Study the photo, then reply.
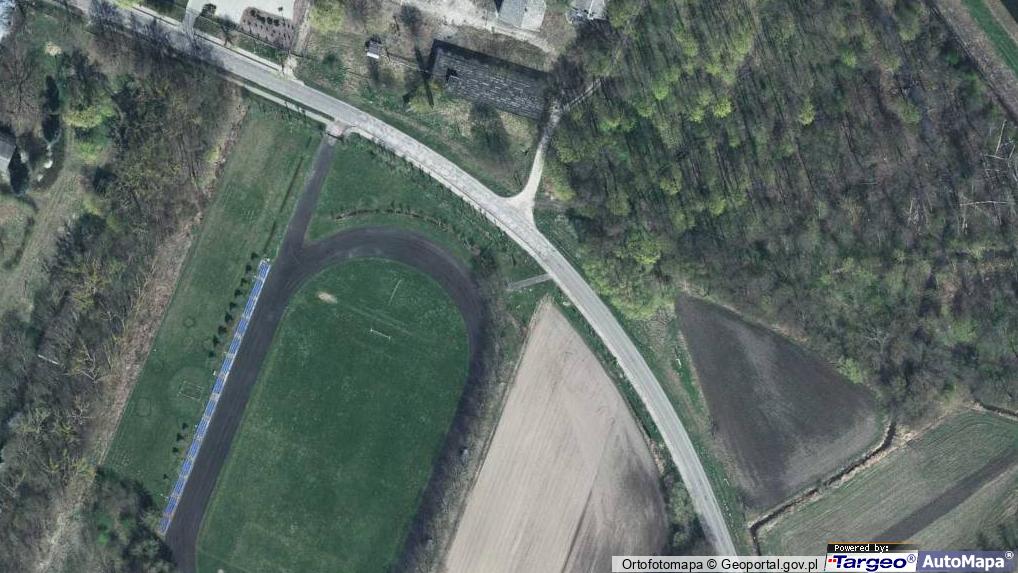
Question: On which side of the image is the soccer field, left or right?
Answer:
left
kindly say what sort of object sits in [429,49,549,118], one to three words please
barn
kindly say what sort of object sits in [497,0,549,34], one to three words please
house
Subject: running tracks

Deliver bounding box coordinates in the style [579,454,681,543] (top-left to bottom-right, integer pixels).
[164,226,489,573]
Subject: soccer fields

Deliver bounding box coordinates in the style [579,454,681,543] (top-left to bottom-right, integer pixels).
[195,257,469,573]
